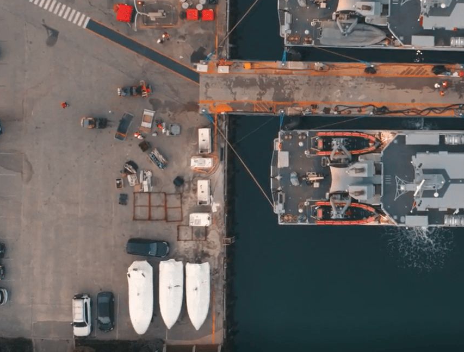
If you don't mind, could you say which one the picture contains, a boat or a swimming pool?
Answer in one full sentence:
I can see a boat in this picture.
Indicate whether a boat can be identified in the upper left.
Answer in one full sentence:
No, no boat appears in the upper left.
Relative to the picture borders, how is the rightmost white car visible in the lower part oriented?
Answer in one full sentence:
The rightmost white car visible in the lower part is oriented up and down.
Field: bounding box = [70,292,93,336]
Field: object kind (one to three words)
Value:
car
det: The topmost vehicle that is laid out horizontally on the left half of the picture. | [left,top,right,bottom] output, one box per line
[118,81,155,96]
